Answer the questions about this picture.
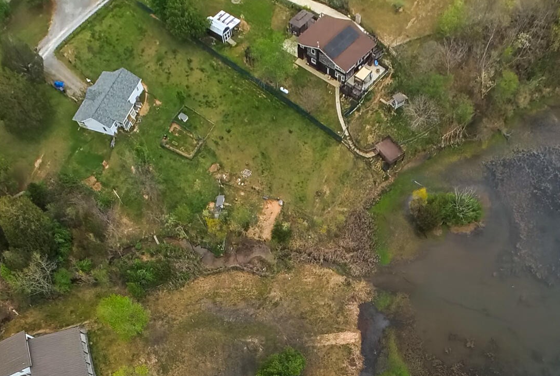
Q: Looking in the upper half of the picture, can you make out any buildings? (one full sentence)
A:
Yes, I can see a building in the upper half of the picture.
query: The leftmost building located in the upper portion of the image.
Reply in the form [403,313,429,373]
[72,69,139,143]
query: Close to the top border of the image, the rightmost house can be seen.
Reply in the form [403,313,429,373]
[297,10,369,90]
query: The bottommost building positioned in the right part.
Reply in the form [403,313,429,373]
[376,138,403,169]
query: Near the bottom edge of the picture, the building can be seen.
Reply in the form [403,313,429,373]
[0,326,95,376]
